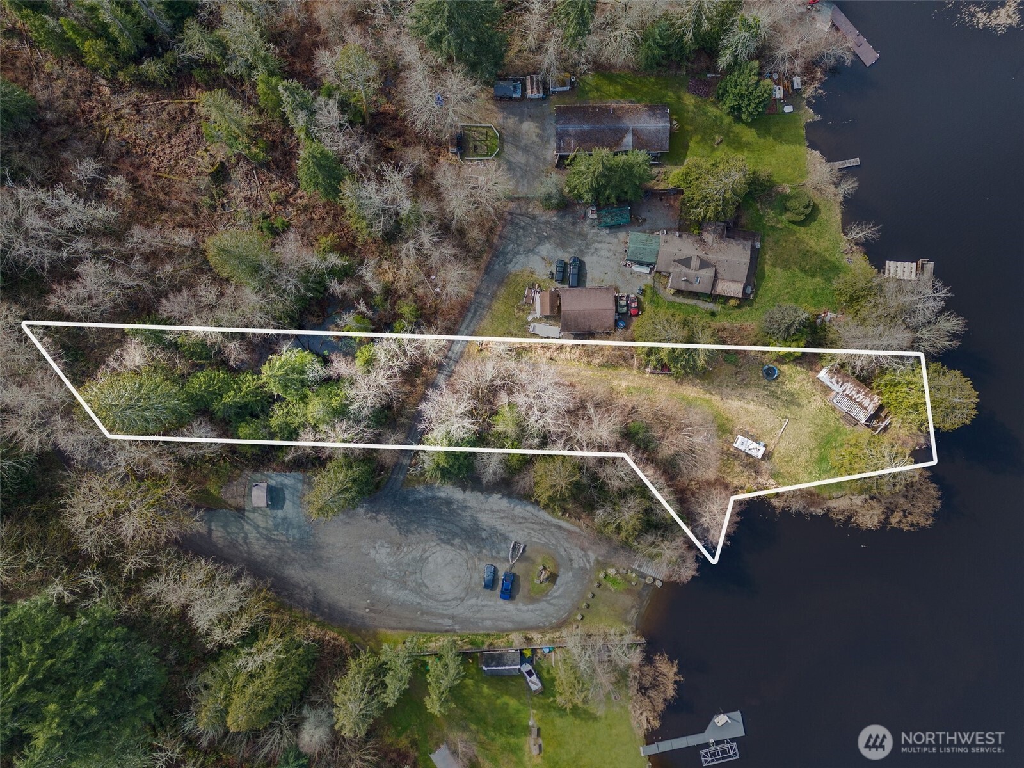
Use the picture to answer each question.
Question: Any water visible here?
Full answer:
Yes, there's water in this view.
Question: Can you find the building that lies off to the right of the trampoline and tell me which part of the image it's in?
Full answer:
The building that lies off to the right of the trampoline sits in the right section of the image.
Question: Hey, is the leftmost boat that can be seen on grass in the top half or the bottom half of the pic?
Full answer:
You can find the leftmost boat that can be seen on grass in the bottom half.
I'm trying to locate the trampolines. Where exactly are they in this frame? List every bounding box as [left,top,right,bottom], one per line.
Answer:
[761,364,778,380]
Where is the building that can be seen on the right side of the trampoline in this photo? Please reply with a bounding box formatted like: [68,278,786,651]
[817,362,891,432]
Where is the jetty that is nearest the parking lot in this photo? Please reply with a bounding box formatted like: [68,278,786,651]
[640,708,745,756]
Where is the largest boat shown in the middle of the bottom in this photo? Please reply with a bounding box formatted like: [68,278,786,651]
[524,665,545,695]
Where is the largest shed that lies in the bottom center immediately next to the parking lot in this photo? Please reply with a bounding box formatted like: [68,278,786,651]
[479,647,520,676]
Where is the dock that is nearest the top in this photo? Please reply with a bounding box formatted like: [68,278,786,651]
[830,5,880,67]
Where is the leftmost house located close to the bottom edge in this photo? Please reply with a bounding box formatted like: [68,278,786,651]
[429,739,467,768]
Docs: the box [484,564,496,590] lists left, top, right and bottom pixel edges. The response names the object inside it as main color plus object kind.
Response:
blue vehicle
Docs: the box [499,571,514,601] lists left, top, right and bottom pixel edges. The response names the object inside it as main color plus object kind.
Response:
blue vehicle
